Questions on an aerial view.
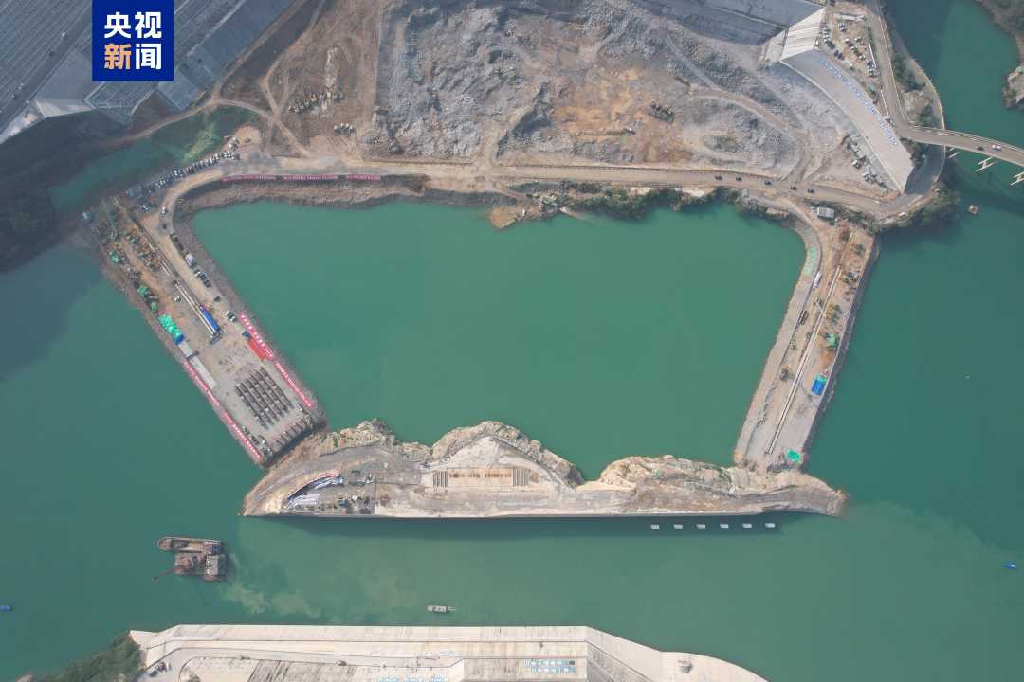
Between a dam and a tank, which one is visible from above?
dam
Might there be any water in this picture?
Yes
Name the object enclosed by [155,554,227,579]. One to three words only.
ship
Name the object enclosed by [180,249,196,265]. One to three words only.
vehicle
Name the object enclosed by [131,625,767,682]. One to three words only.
dam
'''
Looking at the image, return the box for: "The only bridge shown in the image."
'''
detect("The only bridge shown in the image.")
[910,124,1024,188]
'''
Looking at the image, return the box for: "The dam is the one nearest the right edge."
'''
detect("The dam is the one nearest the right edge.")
[627,0,797,43]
